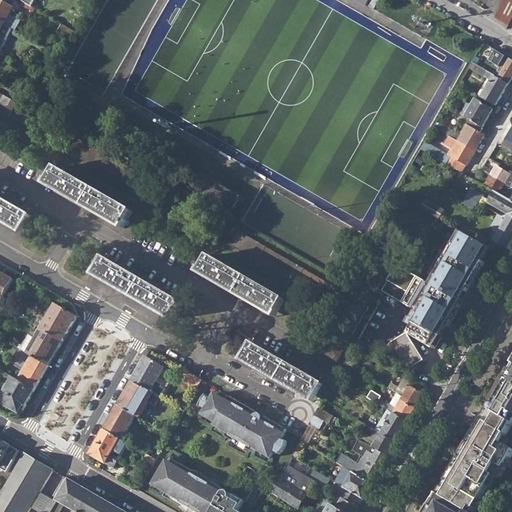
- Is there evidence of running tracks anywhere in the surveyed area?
No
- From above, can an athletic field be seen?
Yes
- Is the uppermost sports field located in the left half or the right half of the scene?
left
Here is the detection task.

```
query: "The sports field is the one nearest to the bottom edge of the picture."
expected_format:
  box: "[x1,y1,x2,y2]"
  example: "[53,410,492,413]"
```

[242,186,346,266]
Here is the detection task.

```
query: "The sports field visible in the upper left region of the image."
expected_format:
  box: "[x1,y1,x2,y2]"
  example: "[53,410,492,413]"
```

[66,0,157,96]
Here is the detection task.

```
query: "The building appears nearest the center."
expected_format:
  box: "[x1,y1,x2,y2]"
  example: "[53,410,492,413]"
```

[190,250,284,318]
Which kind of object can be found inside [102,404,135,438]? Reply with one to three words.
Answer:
house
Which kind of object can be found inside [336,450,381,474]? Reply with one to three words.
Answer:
house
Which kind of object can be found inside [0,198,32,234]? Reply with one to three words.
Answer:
building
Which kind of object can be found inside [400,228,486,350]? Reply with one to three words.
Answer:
building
